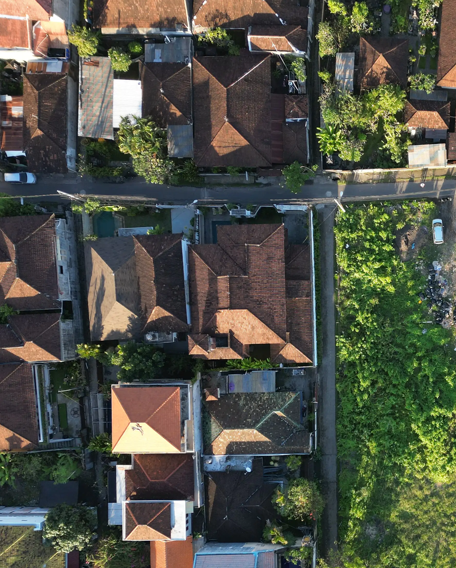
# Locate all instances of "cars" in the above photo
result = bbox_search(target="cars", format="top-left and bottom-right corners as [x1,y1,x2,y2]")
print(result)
[432,217,444,243]
[2,170,35,183]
